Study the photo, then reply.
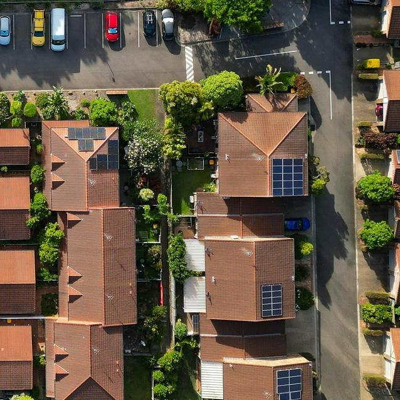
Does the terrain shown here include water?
No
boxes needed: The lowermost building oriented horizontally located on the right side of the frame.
[221,355,313,400]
